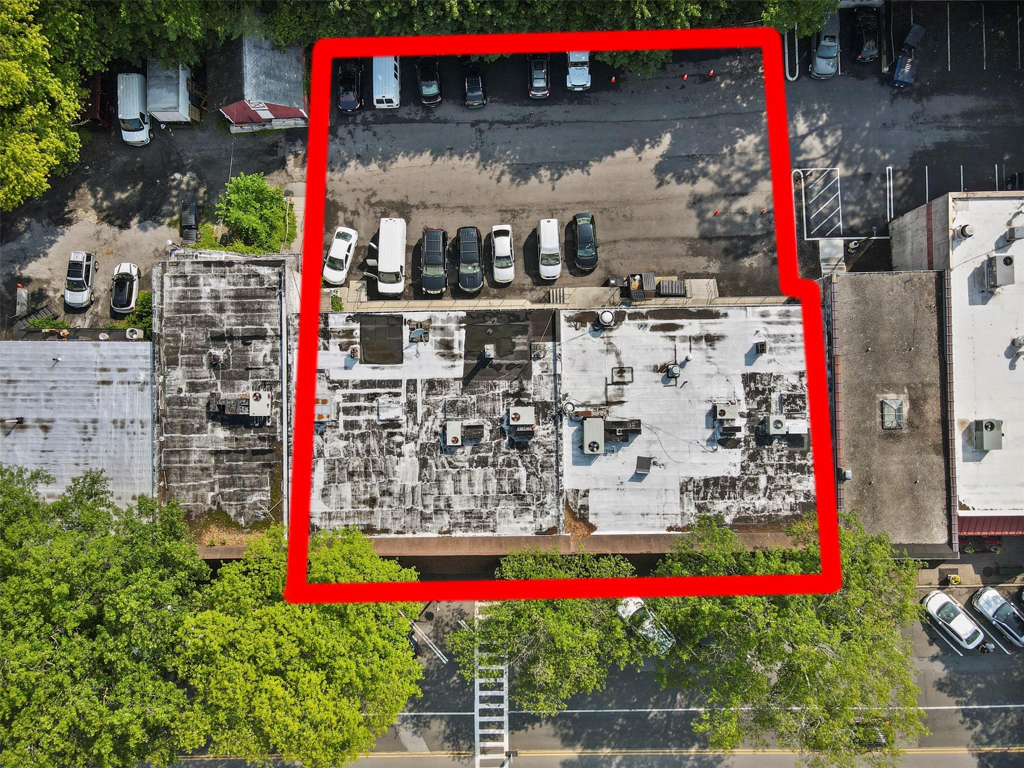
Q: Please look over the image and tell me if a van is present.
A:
Yes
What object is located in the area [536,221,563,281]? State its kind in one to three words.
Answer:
vehicle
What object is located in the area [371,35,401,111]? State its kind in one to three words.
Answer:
van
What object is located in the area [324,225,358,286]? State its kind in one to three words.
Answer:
car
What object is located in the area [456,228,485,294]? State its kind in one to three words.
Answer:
car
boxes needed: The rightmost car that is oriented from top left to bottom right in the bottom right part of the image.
[971,589,1024,656]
